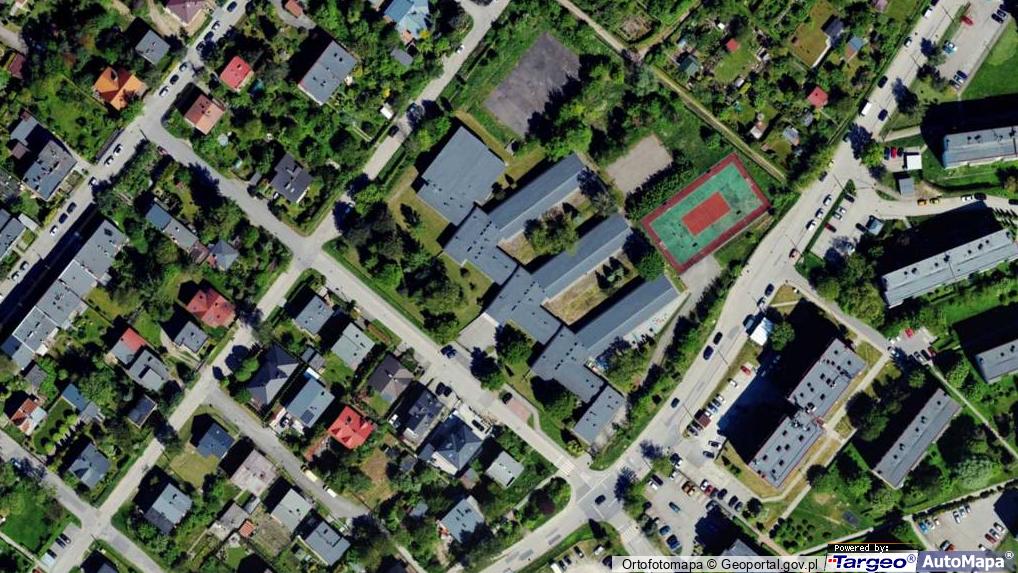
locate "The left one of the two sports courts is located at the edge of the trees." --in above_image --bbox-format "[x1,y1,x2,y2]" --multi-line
[605,134,673,199]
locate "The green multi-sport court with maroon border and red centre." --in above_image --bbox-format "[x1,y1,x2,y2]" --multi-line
[641,152,771,274]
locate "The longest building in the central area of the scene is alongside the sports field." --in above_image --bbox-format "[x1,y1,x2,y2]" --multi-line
[417,125,680,445]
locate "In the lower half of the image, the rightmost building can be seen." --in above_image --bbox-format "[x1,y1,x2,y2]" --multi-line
[973,340,1018,383]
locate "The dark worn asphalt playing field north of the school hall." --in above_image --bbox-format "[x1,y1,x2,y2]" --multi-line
[484,32,581,137]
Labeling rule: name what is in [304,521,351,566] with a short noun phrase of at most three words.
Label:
house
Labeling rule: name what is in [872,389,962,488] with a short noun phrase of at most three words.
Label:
building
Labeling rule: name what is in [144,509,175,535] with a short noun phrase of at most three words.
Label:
shed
